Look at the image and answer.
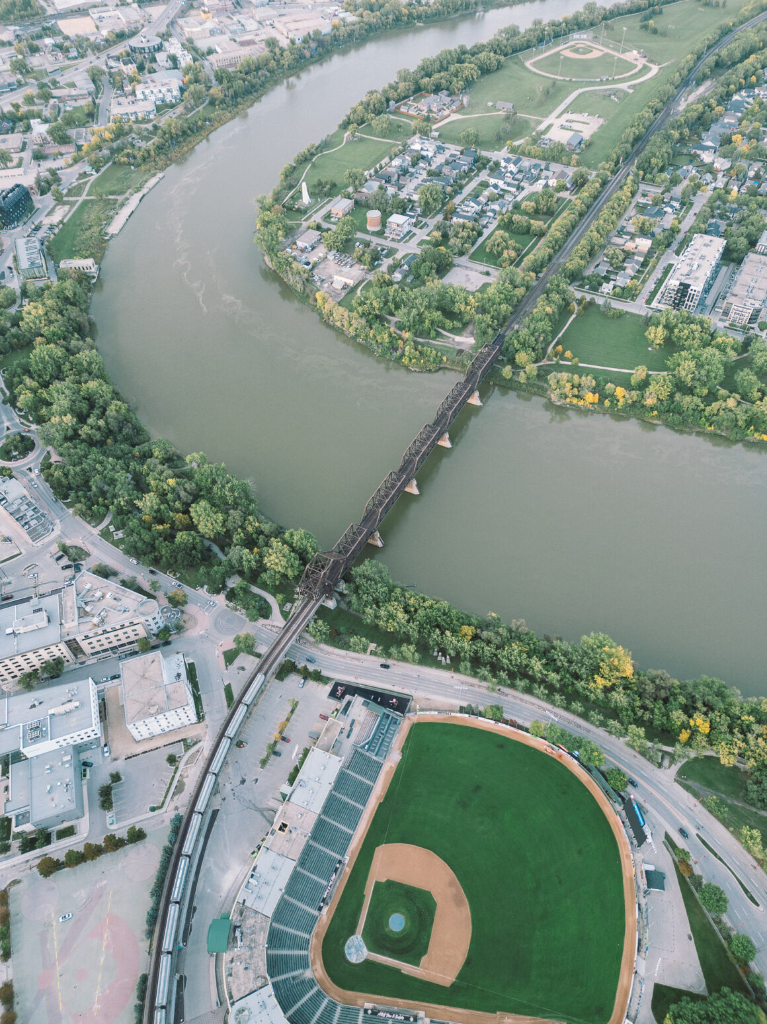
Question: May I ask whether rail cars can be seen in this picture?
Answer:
Yes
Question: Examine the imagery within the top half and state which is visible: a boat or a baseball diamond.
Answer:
baseball diamond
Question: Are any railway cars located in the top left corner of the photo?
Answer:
No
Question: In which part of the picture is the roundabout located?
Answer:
left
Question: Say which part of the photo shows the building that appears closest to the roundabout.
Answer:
left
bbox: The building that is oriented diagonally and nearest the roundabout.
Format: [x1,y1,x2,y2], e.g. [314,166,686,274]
[0,476,55,549]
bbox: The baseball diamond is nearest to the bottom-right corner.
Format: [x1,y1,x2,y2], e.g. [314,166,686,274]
[309,707,641,1024]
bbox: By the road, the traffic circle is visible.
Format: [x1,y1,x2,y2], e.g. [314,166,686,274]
[0,420,53,472]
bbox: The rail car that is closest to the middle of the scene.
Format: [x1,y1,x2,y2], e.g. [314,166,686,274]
[244,674,264,707]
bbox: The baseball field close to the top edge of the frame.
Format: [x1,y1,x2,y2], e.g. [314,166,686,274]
[524,27,647,82]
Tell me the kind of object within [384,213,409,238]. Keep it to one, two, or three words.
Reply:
house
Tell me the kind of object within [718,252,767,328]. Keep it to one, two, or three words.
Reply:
building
